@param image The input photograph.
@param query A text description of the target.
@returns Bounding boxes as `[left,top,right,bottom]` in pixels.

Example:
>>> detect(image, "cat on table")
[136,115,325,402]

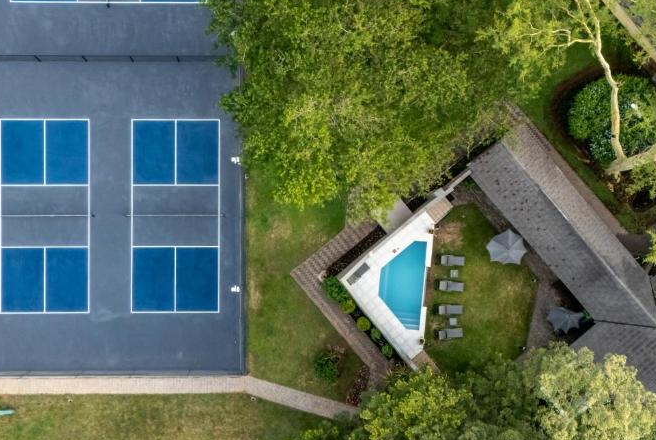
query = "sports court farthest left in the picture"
[0,119,90,314]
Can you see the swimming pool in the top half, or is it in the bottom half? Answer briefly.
bottom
